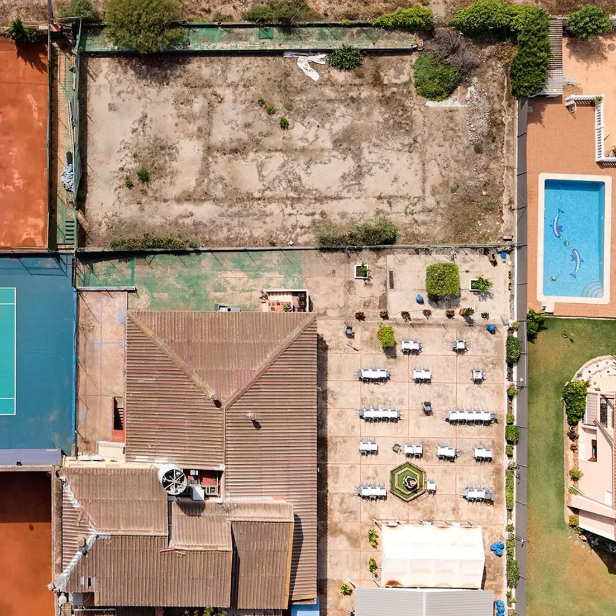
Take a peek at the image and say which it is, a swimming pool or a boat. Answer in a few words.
swimming pool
